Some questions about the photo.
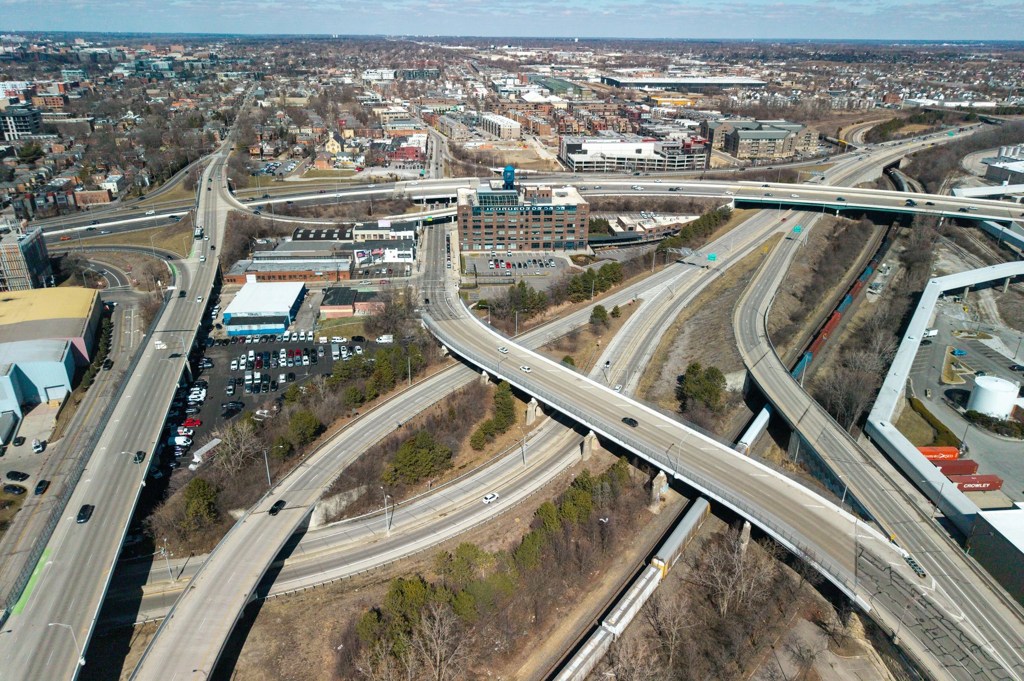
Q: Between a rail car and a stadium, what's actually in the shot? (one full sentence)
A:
There is a rail car in the scene.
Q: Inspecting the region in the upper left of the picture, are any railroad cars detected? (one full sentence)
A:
No, I see no railroad car in the upper left of the picture.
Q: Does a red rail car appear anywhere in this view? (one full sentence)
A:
Yes, there's a red rail car here.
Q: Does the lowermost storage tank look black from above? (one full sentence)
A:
No, the lowermost storage tank is actually white.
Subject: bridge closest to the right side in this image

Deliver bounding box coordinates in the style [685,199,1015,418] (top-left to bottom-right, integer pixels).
[419,289,1021,681]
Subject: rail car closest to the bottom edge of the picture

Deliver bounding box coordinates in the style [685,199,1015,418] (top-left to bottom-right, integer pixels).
[553,620,616,681]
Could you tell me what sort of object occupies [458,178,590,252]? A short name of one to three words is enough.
building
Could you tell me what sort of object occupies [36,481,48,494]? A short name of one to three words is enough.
vehicle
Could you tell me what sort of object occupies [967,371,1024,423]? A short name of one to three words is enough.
storage tank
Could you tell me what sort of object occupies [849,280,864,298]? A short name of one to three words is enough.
rail car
